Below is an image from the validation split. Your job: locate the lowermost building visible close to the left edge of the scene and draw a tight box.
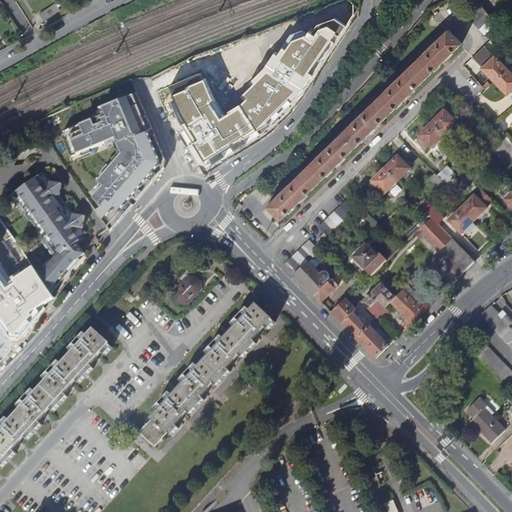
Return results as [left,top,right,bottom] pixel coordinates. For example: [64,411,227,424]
[0,326,112,459]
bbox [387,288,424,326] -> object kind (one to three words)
house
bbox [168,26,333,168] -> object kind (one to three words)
building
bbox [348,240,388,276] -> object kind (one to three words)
house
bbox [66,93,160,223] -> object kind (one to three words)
building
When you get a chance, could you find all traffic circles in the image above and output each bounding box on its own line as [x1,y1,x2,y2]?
[160,174,220,238]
